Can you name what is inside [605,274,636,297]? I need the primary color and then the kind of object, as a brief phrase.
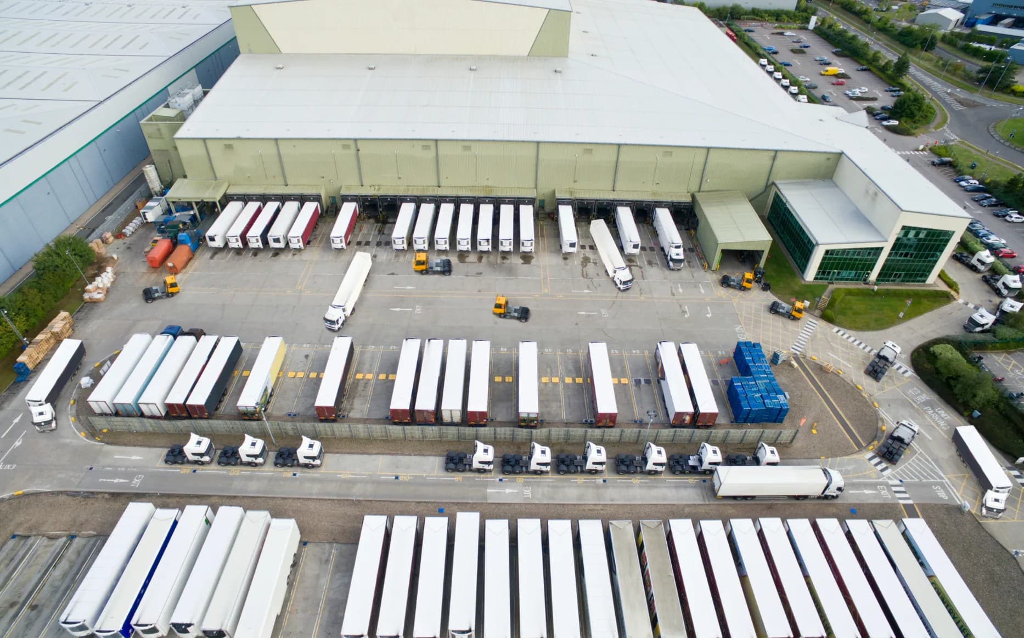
white truck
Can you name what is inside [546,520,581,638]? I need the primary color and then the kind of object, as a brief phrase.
white trailer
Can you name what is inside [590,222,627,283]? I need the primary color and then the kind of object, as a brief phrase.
white trailer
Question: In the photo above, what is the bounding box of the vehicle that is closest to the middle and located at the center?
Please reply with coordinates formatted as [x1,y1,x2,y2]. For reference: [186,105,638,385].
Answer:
[493,294,534,322]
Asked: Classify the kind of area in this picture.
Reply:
industrial area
